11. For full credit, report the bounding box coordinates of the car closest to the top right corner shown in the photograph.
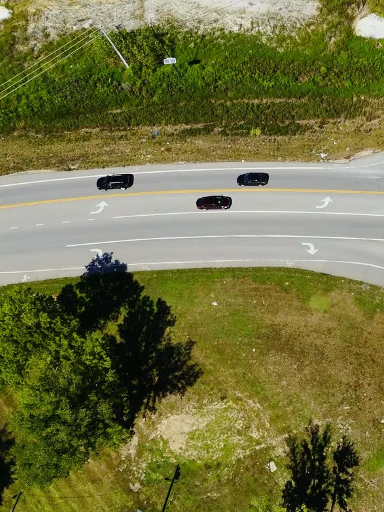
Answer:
[236,171,269,187]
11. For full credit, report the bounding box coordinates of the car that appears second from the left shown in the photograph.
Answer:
[193,194,231,212]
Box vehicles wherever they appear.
[193,194,231,212]
[94,172,134,192]
[236,171,269,187]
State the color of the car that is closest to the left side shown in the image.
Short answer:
black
